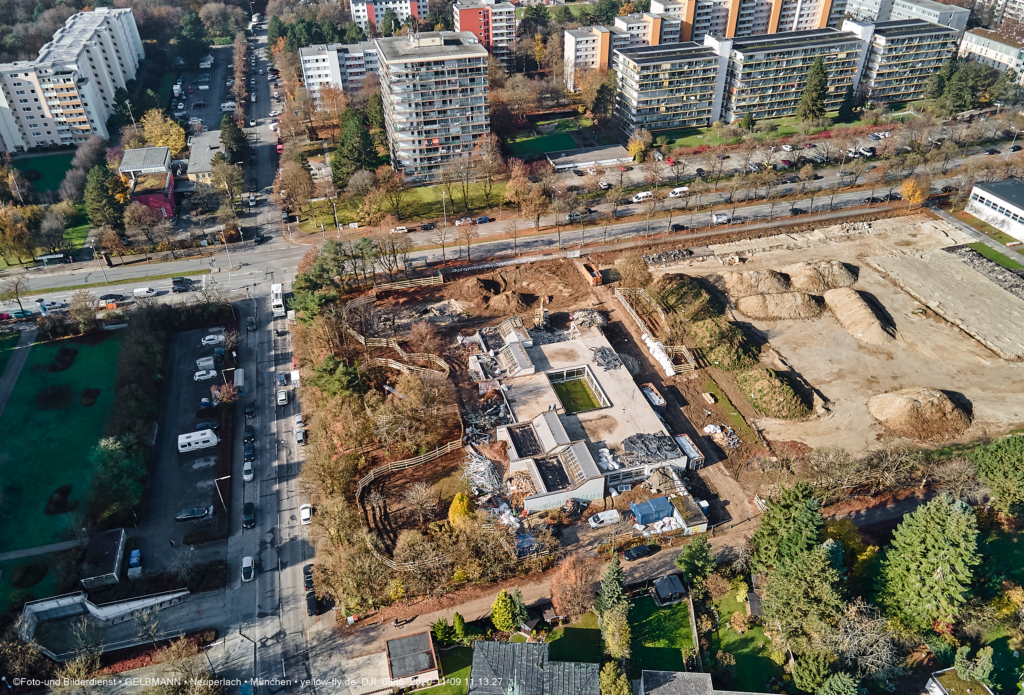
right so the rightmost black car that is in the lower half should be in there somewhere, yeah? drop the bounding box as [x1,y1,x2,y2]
[623,542,651,565]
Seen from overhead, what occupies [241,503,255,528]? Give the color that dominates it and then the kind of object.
black car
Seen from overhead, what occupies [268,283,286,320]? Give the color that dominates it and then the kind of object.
white vehicle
